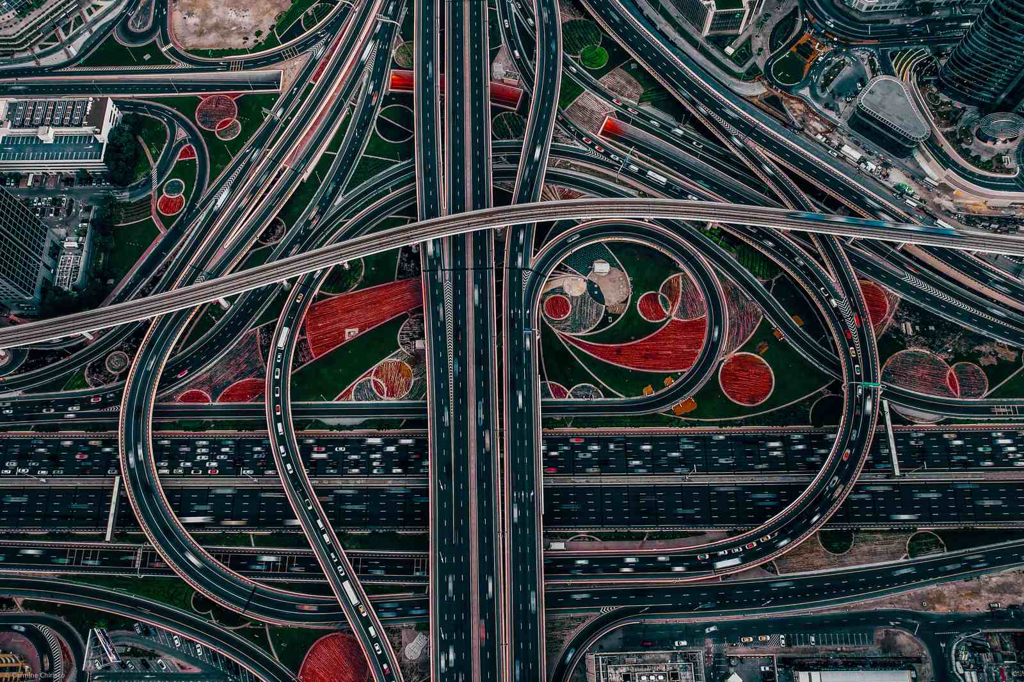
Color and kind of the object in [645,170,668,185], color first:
white vehicle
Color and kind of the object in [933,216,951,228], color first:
white vehicle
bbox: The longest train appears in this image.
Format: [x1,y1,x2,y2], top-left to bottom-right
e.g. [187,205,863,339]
[788,210,951,236]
